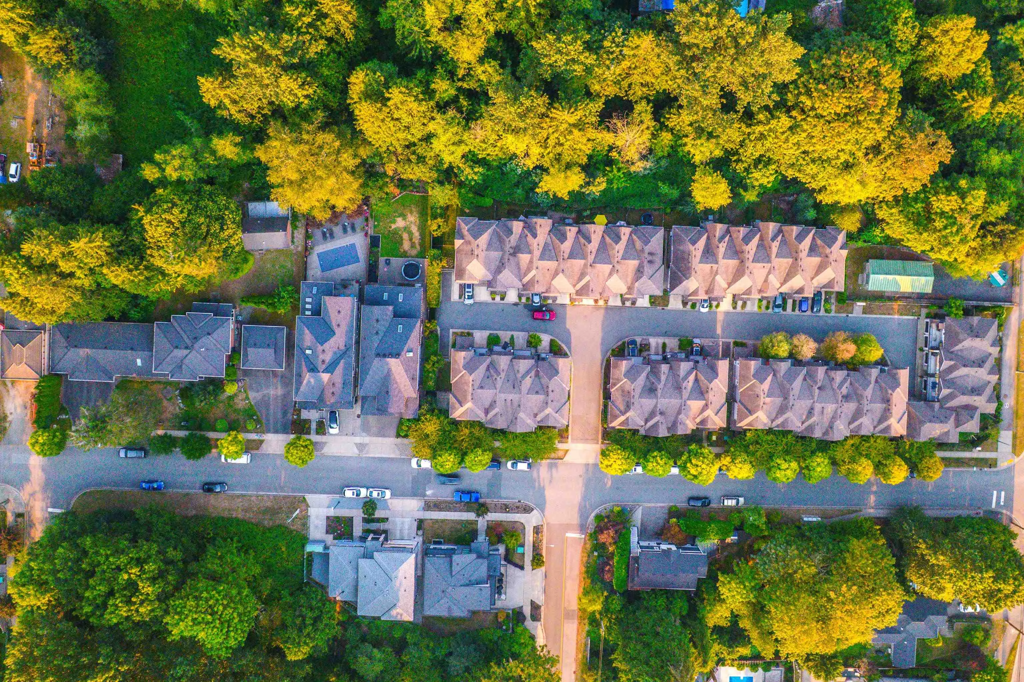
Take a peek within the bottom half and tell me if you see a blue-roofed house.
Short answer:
Yes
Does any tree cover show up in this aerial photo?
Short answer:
Yes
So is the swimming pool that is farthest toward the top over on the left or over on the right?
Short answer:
left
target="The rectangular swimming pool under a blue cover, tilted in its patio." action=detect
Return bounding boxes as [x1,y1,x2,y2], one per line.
[314,240,362,275]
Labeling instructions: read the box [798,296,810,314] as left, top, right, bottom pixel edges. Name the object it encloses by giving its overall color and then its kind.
blue vehicle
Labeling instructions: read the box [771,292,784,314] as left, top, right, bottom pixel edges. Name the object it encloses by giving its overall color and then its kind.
blue vehicle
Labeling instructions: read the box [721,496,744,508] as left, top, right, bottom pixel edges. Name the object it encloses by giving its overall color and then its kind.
white vehicle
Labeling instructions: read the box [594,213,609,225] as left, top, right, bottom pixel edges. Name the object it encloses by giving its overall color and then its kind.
yellow umbrella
